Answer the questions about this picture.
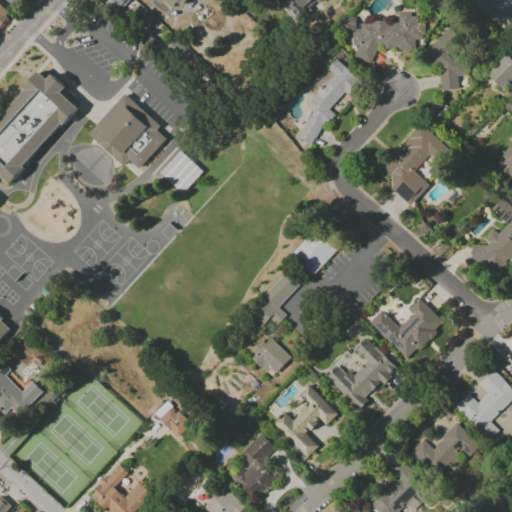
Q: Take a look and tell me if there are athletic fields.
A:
Yes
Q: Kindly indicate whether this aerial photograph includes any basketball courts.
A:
Yes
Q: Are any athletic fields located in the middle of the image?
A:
Yes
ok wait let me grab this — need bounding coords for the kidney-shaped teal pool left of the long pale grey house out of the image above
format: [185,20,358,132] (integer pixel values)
[289,93,305,120]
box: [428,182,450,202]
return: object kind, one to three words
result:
swimming pool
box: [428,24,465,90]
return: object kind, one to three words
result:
house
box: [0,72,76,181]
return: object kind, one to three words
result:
building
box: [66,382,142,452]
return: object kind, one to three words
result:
tennis court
